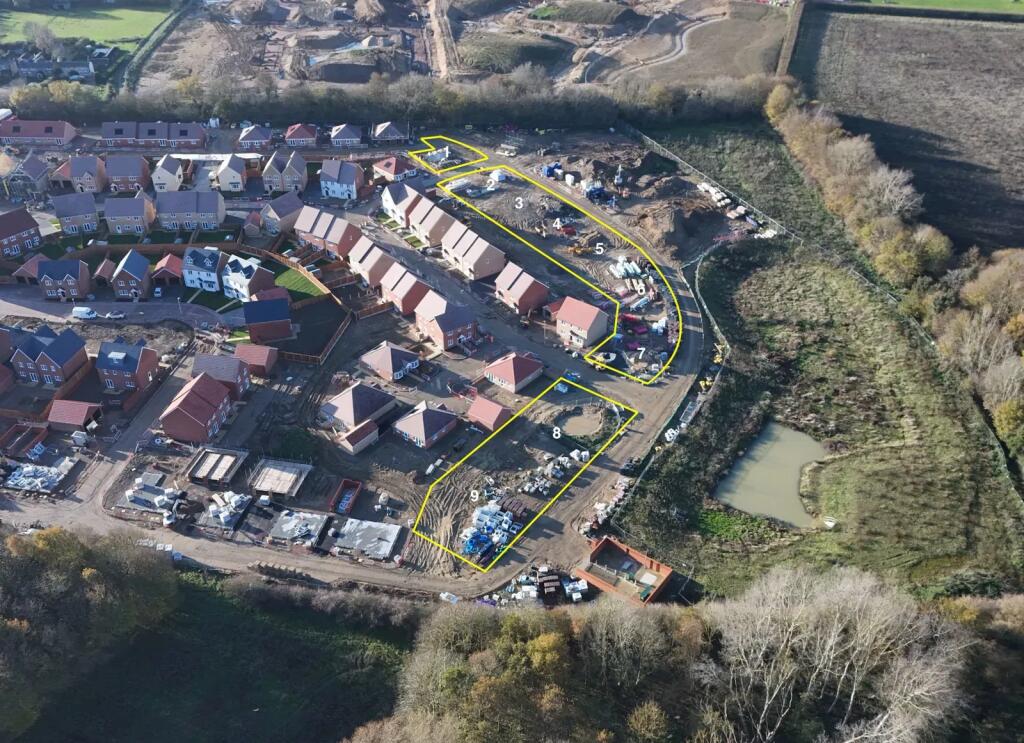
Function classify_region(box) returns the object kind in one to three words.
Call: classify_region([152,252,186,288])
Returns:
building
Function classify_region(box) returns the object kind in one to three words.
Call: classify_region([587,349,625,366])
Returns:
work vehicle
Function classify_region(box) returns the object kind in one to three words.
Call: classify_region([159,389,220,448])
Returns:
house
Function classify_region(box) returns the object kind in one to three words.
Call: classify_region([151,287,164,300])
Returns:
vehicle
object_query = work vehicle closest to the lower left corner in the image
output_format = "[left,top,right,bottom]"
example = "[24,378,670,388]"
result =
[154,494,201,527]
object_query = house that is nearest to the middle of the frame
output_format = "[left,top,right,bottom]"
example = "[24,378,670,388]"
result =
[484,353,540,395]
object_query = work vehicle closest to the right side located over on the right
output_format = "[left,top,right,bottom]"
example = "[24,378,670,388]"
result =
[705,337,726,356]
